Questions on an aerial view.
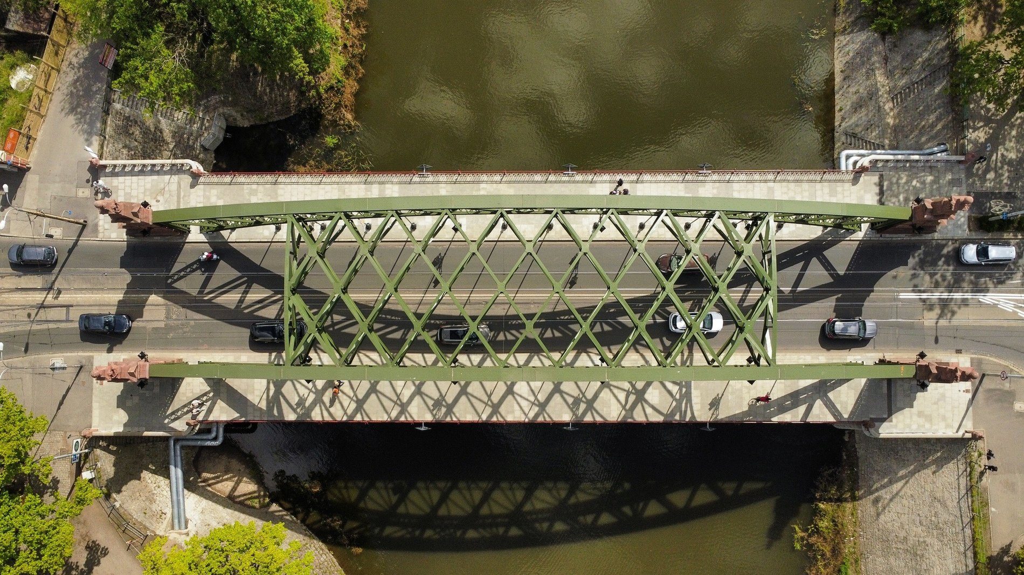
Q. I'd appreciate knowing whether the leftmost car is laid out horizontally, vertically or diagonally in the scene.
horizontally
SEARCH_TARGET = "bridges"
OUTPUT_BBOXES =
[74,153,983,441]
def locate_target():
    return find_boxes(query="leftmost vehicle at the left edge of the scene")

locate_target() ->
[10,242,60,268]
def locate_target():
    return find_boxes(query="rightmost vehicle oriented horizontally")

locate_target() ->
[957,240,1018,266]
